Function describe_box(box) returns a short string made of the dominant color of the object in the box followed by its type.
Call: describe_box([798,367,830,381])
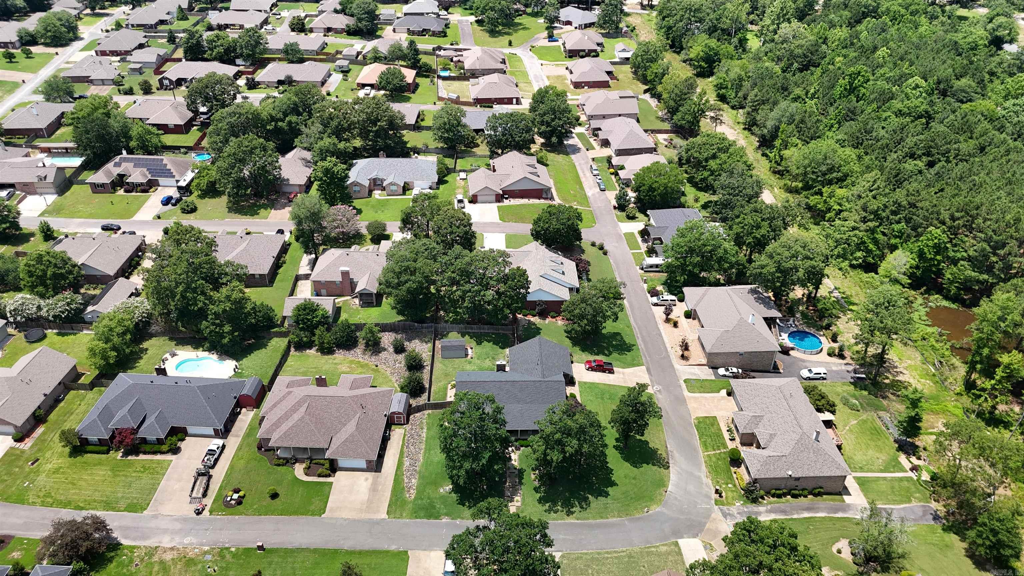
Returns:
white car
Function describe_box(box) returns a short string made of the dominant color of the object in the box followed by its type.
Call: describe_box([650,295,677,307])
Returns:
white vehicle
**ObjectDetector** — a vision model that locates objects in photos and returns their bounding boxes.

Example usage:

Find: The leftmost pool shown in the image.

[34,151,88,169]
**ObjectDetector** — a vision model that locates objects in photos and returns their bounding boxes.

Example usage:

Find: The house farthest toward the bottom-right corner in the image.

[723,378,852,491]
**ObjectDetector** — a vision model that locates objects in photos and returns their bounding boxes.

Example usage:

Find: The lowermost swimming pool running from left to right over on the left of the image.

[160,351,237,378]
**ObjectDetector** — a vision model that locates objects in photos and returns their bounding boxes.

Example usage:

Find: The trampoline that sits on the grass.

[22,328,49,345]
